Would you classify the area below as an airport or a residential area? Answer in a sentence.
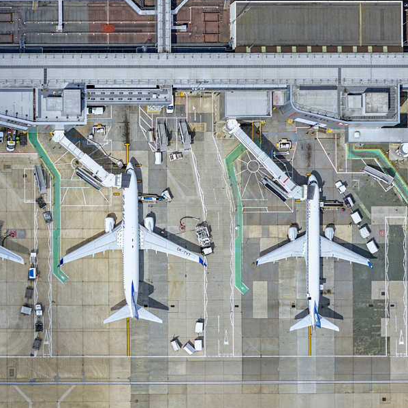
The picture captures an airport.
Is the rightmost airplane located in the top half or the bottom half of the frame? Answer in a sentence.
It is in the bottom half that the rightmost airplane appears.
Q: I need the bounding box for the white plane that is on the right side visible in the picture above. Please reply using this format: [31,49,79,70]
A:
[256,200,375,332]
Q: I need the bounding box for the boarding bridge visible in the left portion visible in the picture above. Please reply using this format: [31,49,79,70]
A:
[50,129,134,189]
